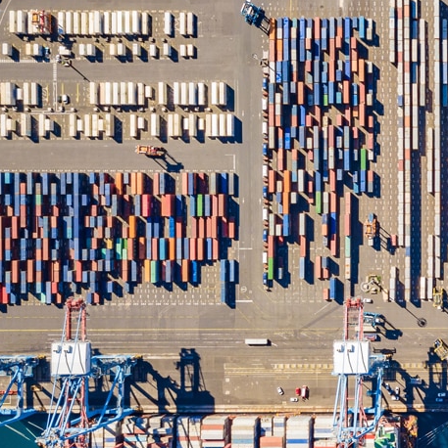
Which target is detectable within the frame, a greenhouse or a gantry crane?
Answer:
gantry crane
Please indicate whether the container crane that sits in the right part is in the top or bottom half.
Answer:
bottom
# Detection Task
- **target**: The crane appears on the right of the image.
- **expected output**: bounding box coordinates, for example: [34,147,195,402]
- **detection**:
[331,298,389,448]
